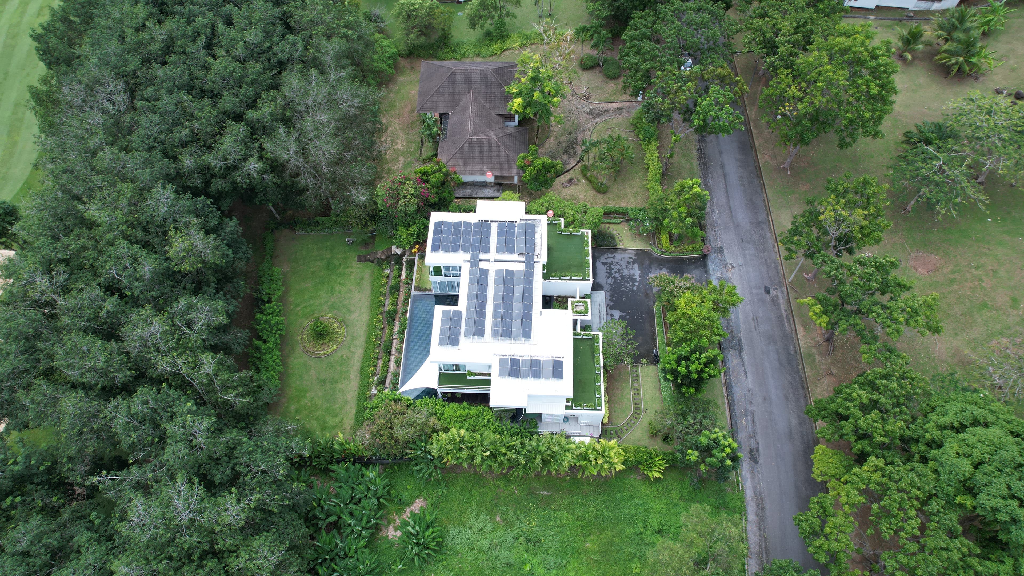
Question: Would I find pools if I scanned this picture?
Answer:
Yes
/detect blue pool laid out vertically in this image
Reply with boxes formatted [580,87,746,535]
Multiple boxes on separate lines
[398,292,460,409]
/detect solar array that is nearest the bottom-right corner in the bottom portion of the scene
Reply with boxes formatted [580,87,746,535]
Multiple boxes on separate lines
[499,358,563,380]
